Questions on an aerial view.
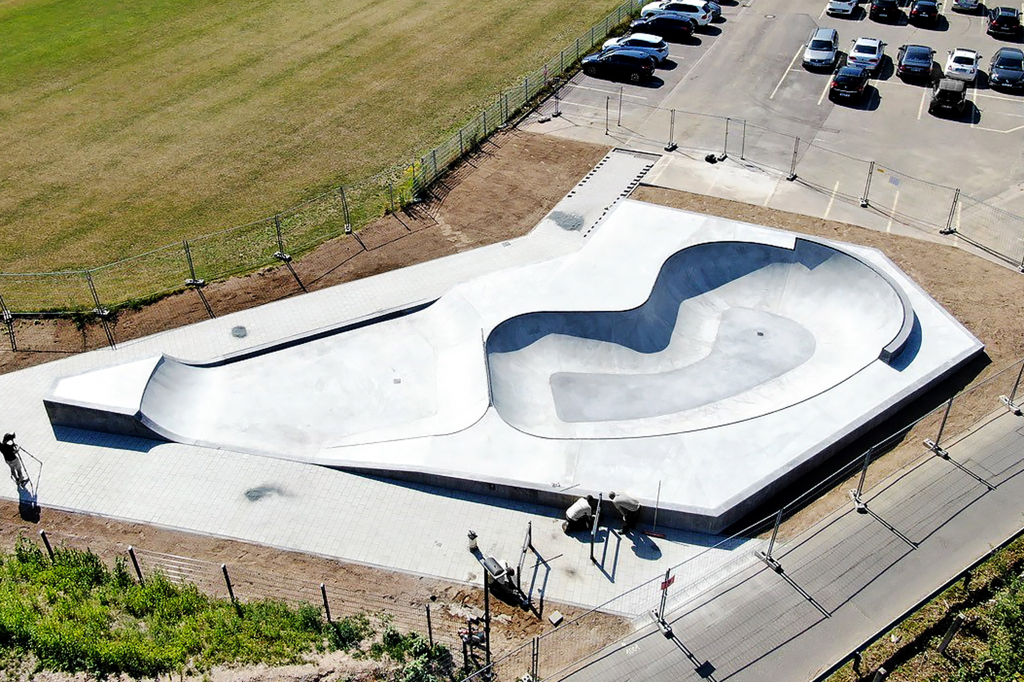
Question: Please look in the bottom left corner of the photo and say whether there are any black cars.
No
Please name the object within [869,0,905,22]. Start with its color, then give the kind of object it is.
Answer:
black car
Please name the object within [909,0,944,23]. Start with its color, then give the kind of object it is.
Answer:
black car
